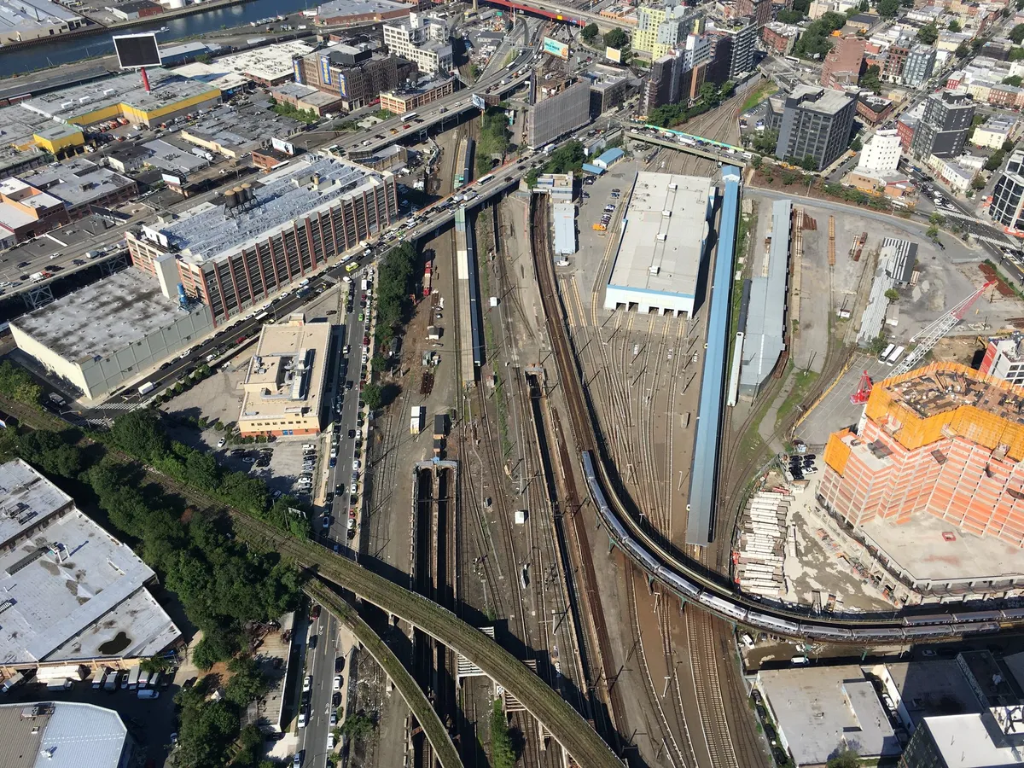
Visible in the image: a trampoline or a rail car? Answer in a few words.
rail car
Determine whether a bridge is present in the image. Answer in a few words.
Yes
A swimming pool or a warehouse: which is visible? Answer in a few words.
warehouse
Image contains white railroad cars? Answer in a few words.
Yes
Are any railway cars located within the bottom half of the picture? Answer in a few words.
Yes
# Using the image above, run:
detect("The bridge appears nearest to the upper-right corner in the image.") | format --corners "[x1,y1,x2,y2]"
[625,121,763,177]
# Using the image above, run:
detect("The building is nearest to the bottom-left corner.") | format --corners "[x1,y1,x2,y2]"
[0,701,136,768]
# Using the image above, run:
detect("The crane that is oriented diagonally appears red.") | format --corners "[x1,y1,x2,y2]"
[847,281,996,405]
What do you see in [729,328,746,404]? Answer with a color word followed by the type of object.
white rail car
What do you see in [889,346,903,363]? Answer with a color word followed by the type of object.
white vehicle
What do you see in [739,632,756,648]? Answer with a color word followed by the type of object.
white vehicle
